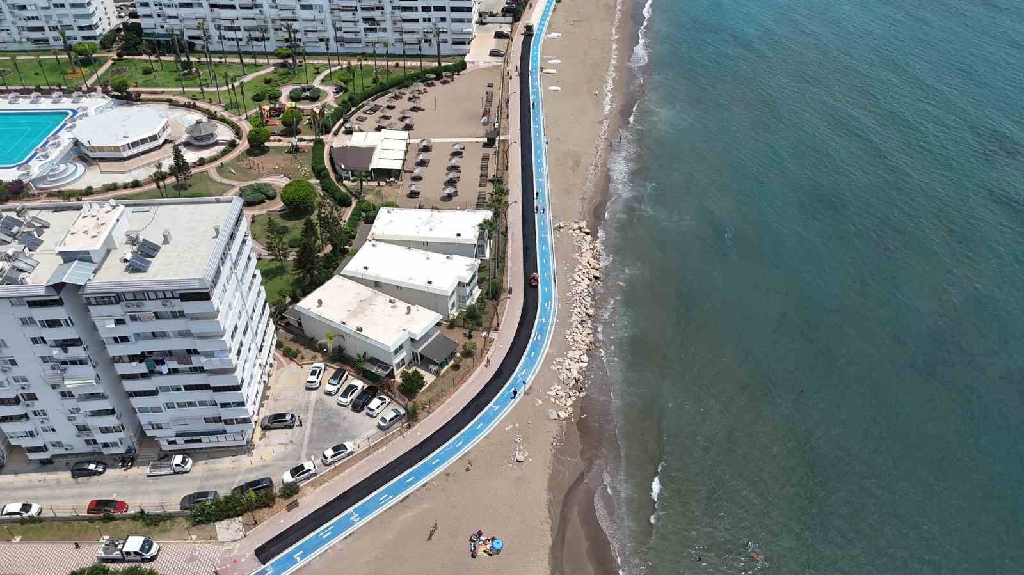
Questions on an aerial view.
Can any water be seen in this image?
Yes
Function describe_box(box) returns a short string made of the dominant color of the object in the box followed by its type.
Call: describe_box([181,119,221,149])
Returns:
gray gazebo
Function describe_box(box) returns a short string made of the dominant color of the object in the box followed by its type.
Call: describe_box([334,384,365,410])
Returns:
white car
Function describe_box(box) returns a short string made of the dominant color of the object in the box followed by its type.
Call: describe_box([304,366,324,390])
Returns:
white car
